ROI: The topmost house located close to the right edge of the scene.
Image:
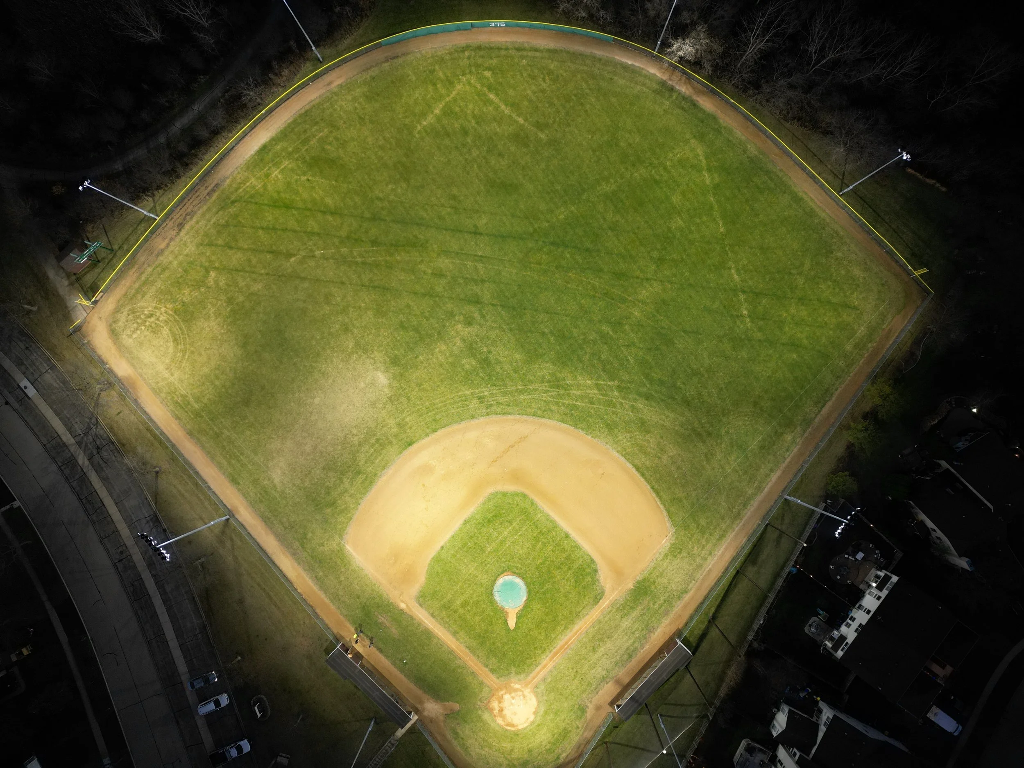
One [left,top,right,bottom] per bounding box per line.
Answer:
[924,410,1024,507]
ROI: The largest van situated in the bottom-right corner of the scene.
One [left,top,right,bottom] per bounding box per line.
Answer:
[929,707,965,737]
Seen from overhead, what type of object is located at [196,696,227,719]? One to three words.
car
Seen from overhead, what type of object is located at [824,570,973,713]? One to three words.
house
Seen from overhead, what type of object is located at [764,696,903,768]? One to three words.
house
